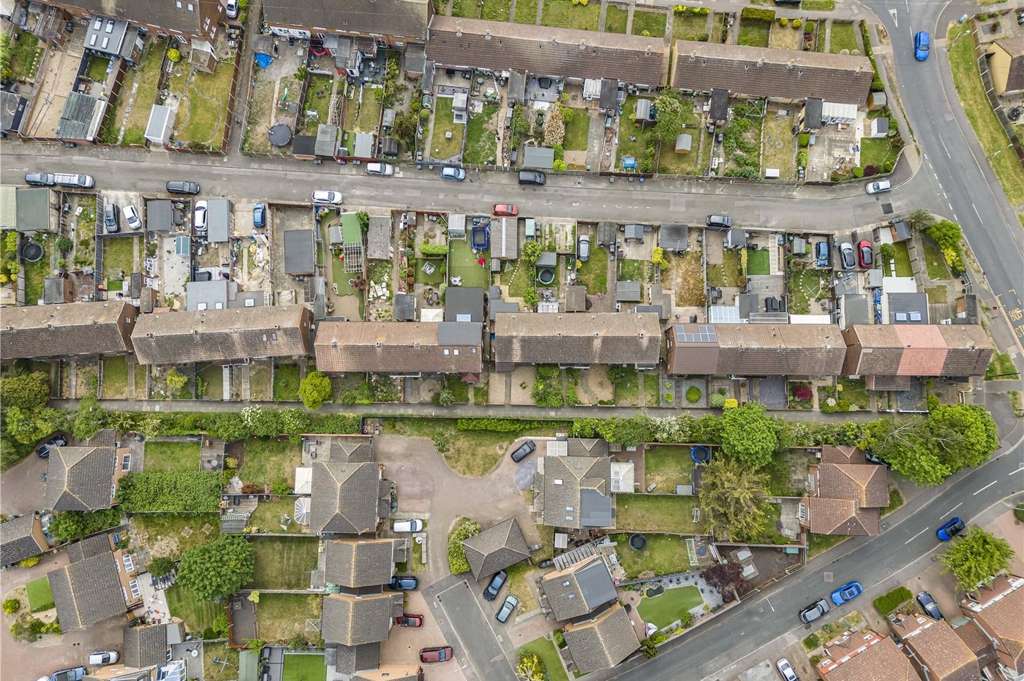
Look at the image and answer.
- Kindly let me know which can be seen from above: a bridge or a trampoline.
trampoline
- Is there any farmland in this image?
No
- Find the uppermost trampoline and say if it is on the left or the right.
left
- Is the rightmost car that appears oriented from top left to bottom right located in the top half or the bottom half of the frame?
bottom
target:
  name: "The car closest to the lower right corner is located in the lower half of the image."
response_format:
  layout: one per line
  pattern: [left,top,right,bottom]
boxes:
[915,588,942,620]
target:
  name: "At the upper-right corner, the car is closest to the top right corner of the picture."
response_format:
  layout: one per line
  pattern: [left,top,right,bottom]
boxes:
[912,32,928,60]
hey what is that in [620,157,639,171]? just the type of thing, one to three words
gazebo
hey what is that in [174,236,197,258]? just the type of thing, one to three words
shed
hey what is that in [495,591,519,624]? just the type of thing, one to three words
car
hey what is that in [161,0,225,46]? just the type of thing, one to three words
house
